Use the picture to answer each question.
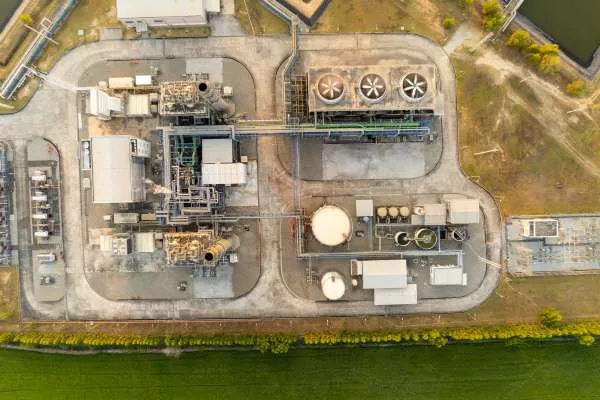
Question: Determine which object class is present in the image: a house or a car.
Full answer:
There is a house in the scene.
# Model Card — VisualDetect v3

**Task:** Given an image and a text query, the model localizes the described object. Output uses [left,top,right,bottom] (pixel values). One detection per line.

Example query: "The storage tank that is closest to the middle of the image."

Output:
[312,203,353,245]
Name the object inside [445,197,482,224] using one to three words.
shed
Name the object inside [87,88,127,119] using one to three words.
house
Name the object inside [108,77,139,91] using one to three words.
building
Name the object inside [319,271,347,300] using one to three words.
storage tank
